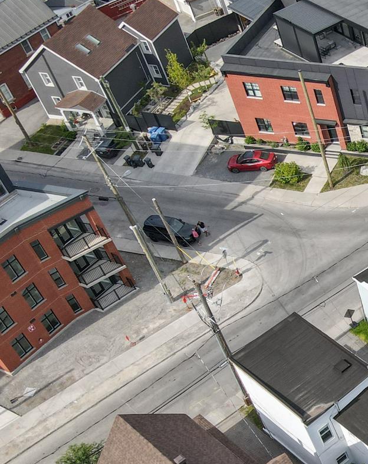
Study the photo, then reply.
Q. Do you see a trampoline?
No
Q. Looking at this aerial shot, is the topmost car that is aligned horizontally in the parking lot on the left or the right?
right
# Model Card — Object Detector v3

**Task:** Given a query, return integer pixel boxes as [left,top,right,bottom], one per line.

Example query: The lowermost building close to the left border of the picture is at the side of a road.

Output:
[0,159,141,373]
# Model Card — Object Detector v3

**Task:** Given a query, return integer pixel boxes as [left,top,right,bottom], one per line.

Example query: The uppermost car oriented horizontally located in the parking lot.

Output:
[221,149,276,173]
